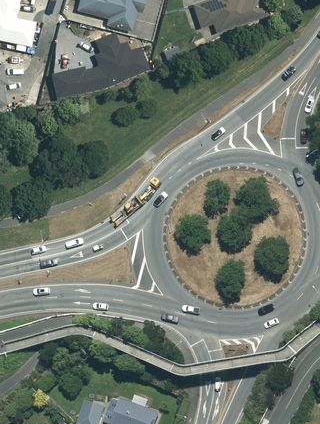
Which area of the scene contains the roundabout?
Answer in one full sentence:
The roundabout is located in the right region of the scene.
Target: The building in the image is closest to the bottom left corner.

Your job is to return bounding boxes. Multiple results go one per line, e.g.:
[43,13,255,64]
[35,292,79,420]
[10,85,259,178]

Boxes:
[76,400,105,424]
